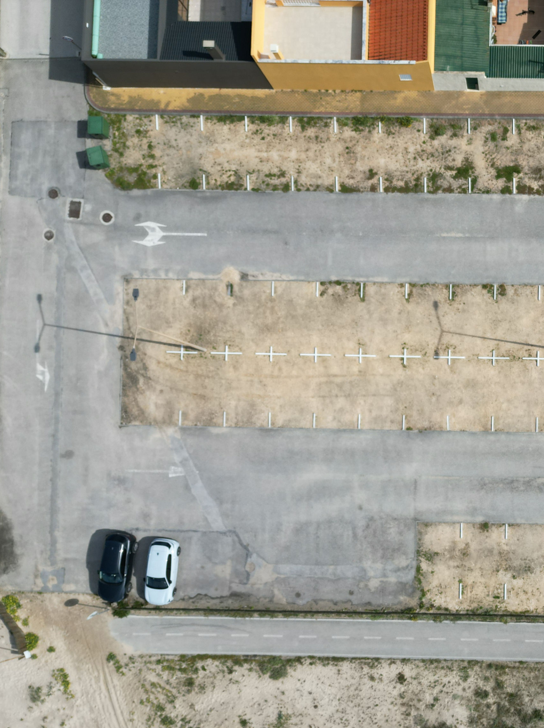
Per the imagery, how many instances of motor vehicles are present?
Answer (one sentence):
My tally gives 2 motor vehicles in this view.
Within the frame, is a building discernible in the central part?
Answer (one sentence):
No, there's no building to be seen in the central part.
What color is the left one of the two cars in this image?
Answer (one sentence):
In this view, the left one of the two cars is black.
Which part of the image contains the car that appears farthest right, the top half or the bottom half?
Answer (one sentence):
The car that appears farthest right sits in the bottom half of the picture.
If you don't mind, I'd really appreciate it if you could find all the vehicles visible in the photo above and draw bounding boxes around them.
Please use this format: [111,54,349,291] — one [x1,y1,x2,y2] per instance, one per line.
[143,537,184,604]
[96,531,139,602]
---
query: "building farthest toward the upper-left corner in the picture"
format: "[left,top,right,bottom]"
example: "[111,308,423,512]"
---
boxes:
[82,0,273,90]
